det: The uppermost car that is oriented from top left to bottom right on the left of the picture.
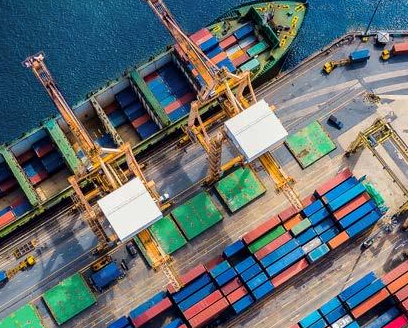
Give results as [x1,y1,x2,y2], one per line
[124,239,139,257]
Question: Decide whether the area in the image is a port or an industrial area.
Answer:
port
